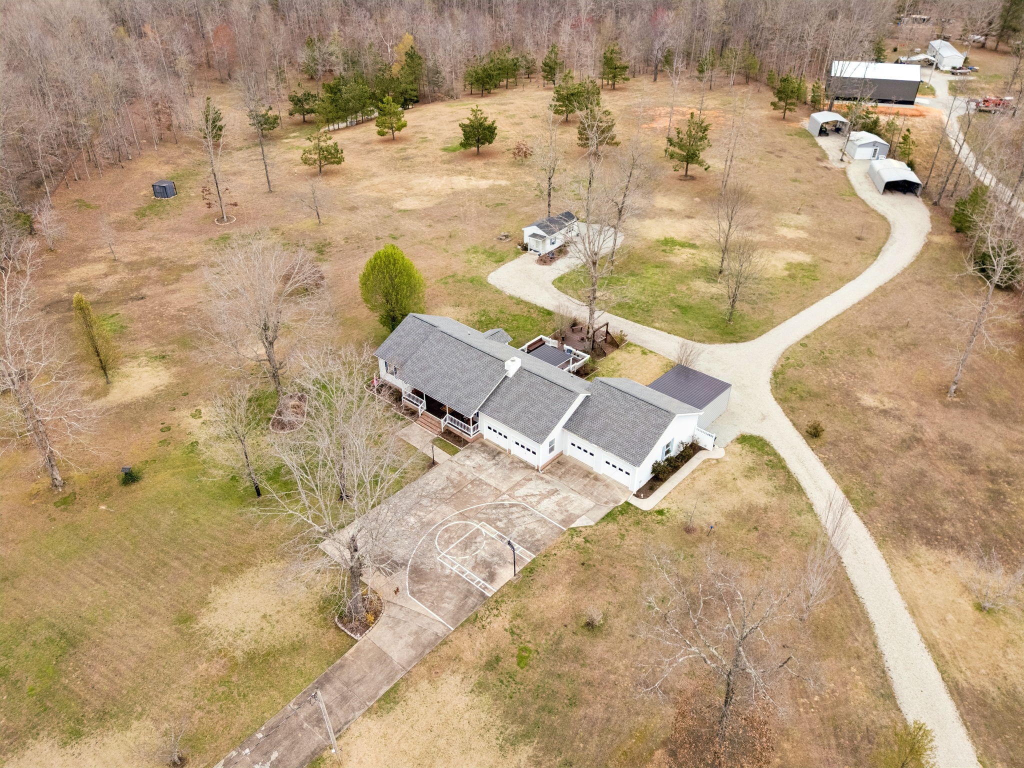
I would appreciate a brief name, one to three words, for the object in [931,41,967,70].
house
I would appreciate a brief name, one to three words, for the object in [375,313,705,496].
house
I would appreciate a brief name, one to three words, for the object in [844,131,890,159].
building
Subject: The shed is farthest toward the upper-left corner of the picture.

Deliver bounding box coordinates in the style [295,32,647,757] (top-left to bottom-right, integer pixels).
[150,180,175,198]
